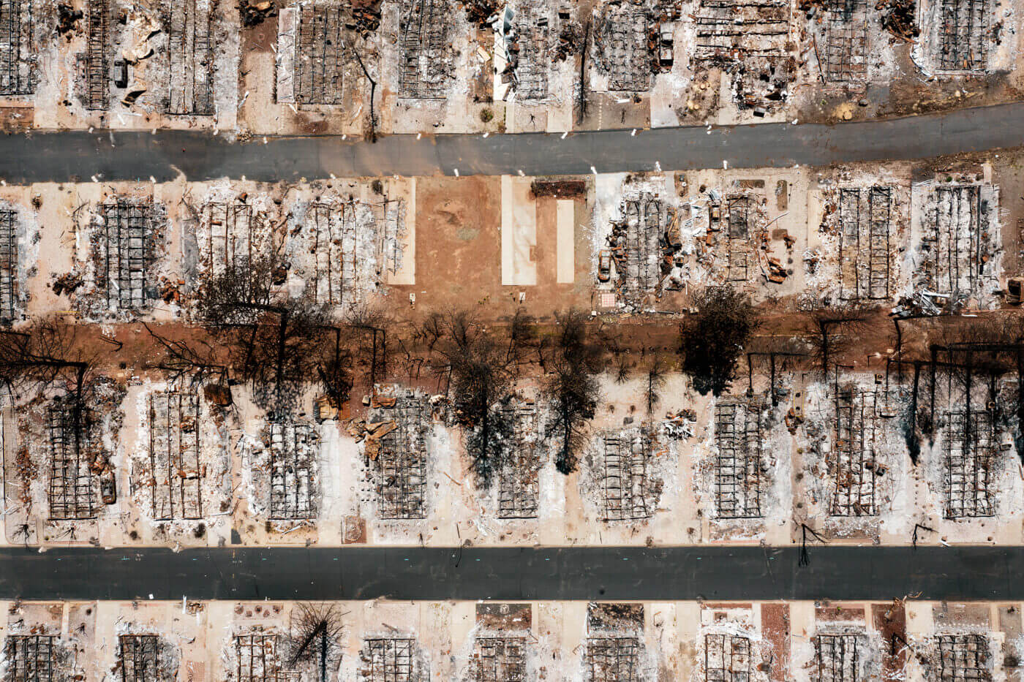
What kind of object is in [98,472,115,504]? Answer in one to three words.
car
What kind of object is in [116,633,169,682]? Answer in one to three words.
house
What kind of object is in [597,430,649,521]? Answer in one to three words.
house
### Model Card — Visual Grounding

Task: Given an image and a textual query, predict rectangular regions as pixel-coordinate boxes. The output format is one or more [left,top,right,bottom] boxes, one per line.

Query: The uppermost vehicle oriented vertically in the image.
[661,21,675,63]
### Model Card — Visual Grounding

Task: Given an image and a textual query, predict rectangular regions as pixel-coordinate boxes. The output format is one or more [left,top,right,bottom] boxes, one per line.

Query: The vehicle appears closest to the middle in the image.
[599,250,612,281]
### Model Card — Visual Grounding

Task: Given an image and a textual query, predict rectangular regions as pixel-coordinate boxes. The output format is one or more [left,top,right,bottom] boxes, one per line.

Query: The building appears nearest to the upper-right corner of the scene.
[938,0,989,73]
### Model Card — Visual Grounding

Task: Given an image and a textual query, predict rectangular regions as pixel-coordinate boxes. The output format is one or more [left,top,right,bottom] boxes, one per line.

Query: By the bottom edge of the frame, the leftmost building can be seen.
[5,634,64,682]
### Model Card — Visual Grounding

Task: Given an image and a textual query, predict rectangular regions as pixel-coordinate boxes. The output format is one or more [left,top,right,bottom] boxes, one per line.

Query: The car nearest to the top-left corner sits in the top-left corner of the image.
[110,58,127,86]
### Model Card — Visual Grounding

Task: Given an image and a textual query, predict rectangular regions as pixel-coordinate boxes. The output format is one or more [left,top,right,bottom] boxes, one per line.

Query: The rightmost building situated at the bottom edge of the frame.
[927,633,988,682]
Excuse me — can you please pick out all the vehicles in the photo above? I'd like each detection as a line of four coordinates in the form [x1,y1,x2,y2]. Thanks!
[110,58,127,86]
[599,250,612,281]
[98,472,115,504]
[709,202,723,231]
[1009,278,1024,303]
[661,21,675,63]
